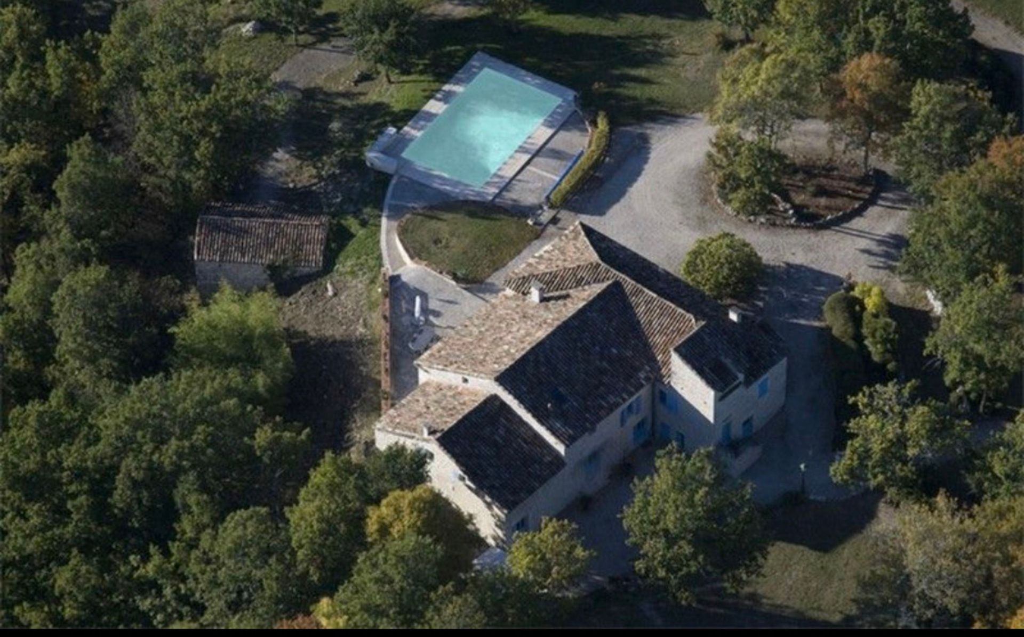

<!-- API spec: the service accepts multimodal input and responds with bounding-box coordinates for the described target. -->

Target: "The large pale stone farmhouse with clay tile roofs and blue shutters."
[369,221,788,547]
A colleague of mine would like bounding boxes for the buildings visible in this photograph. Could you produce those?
[369,221,788,547]
[193,199,332,291]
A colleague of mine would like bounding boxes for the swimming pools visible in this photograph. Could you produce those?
[370,51,580,204]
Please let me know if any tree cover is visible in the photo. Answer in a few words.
Yes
